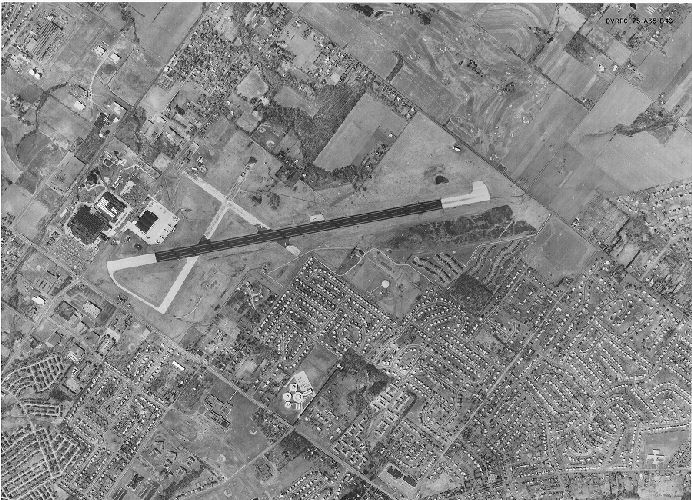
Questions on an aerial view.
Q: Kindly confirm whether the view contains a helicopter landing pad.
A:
No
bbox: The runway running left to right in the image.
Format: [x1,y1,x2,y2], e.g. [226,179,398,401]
[155,199,442,263]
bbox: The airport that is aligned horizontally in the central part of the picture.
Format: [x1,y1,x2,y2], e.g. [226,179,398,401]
[84,113,550,352]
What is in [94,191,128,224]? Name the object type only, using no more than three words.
building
